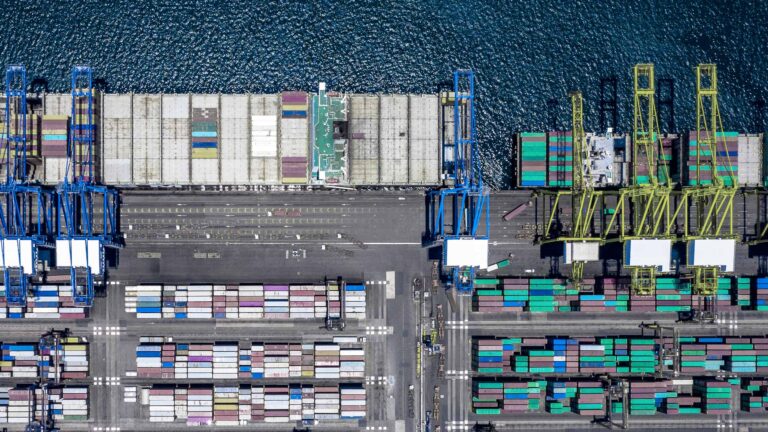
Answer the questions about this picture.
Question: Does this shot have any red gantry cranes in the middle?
No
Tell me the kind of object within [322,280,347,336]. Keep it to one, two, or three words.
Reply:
crane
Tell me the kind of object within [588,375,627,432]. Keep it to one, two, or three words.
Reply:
crane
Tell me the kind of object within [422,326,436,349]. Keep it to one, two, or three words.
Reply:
work vehicle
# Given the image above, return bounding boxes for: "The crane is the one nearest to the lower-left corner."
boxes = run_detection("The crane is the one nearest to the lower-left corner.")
[25,382,59,432]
